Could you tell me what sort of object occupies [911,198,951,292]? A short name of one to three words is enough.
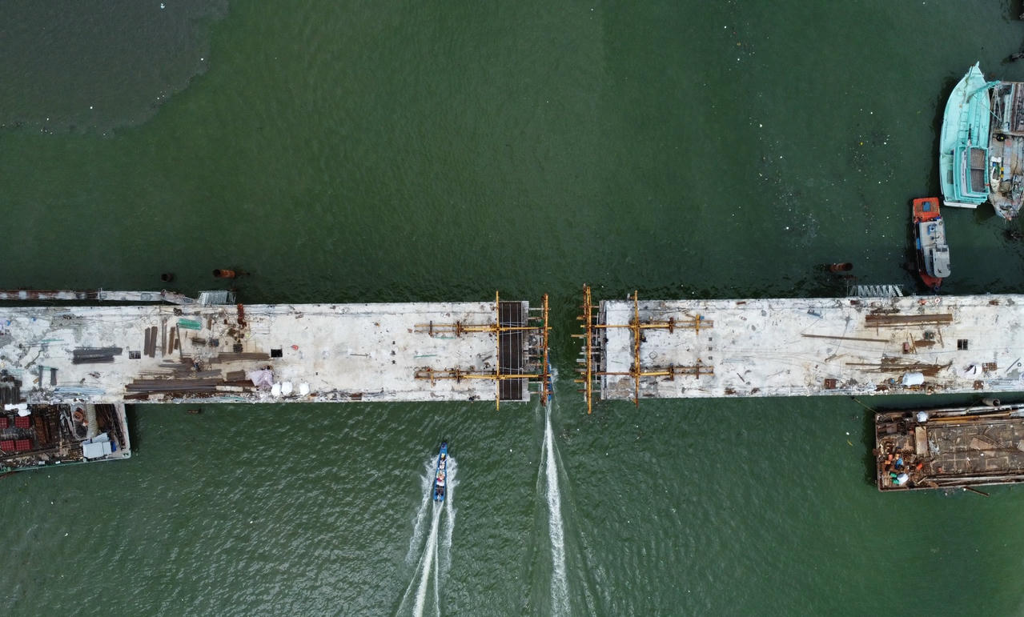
boat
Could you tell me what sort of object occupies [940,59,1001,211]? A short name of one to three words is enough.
boat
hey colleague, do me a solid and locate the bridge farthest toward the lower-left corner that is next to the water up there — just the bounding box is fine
[0,301,529,404]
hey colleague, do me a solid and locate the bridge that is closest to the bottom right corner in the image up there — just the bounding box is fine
[600,294,1024,399]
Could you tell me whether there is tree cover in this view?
No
